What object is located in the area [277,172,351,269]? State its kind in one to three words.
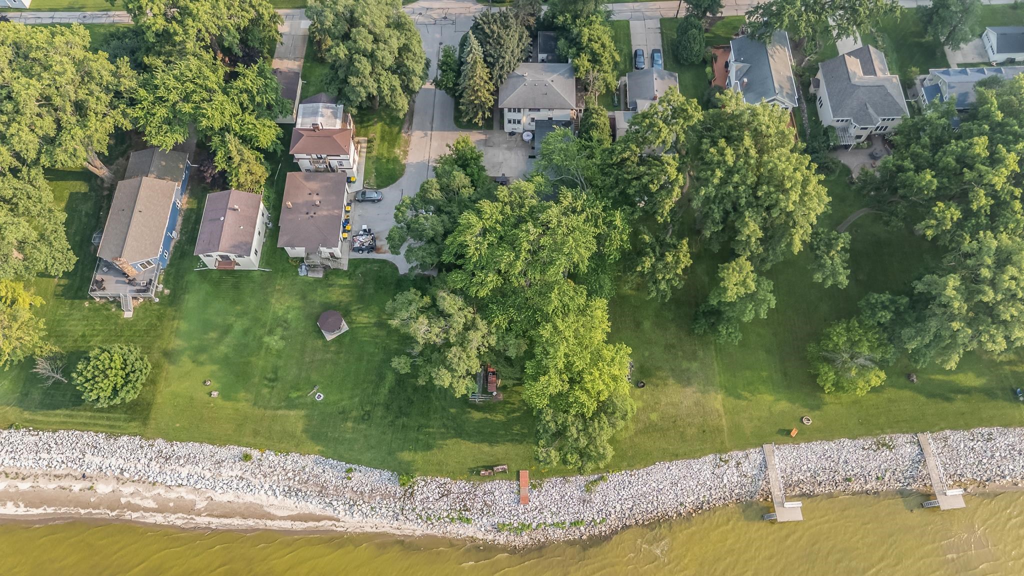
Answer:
house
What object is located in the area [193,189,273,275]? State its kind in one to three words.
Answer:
house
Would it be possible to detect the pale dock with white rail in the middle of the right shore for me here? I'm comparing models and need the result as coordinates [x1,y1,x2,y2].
[757,440,802,523]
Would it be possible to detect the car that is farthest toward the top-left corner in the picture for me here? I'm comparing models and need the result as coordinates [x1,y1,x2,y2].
[353,188,383,202]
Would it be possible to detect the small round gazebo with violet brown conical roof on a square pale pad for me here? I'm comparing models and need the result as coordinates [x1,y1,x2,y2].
[315,311,349,345]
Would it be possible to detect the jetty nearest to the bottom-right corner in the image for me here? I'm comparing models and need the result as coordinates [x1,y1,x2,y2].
[916,430,966,512]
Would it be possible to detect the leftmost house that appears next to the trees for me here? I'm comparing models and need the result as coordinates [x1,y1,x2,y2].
[97,147,206,274]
